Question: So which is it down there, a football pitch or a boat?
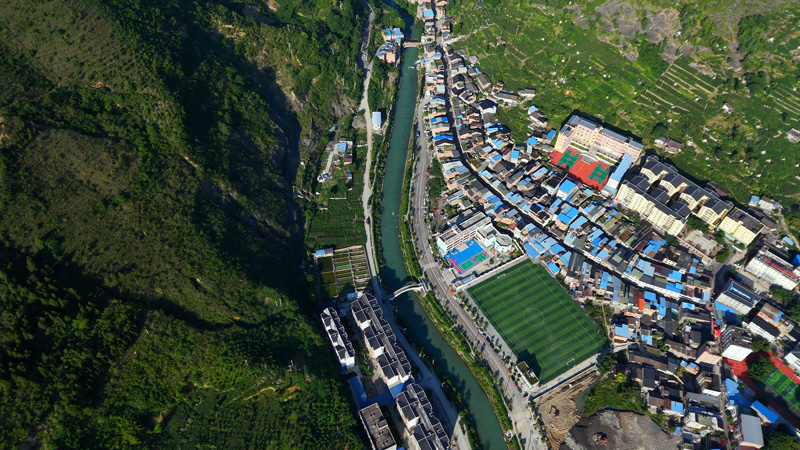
football pitch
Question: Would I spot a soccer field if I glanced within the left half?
No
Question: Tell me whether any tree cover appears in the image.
Yes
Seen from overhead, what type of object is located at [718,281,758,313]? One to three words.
building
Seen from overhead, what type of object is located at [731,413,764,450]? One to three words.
building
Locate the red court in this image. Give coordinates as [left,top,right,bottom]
[550,147,611,190]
